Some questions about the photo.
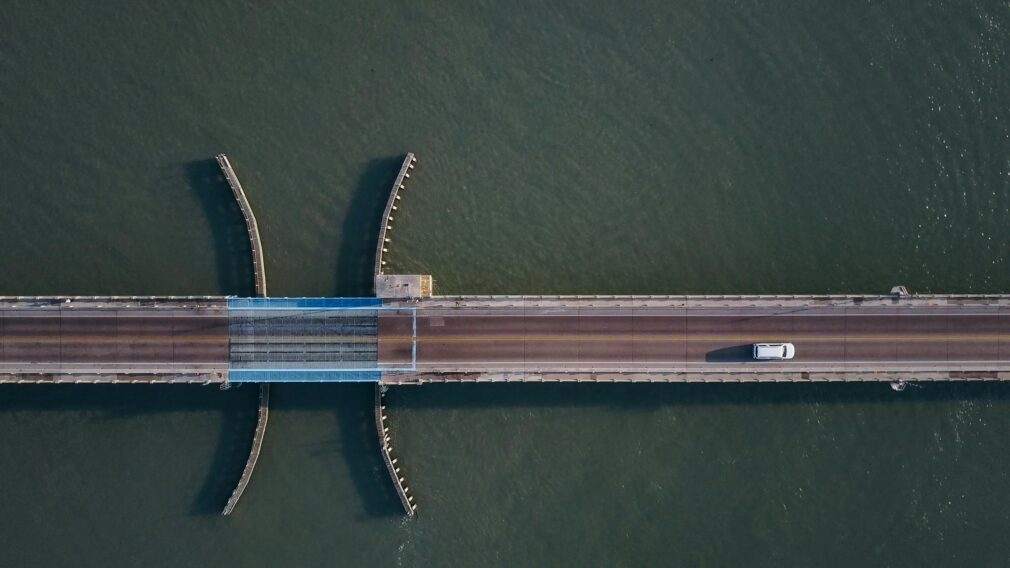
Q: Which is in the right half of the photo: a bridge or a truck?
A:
bridge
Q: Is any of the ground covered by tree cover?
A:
No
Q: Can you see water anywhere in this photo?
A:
Yes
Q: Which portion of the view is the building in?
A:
center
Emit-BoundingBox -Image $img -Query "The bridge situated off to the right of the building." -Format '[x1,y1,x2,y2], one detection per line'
[416,286,1010,390]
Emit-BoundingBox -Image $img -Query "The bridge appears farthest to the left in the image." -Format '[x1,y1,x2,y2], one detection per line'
[0,296,232,384]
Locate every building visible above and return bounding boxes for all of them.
[376,275,433,296]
